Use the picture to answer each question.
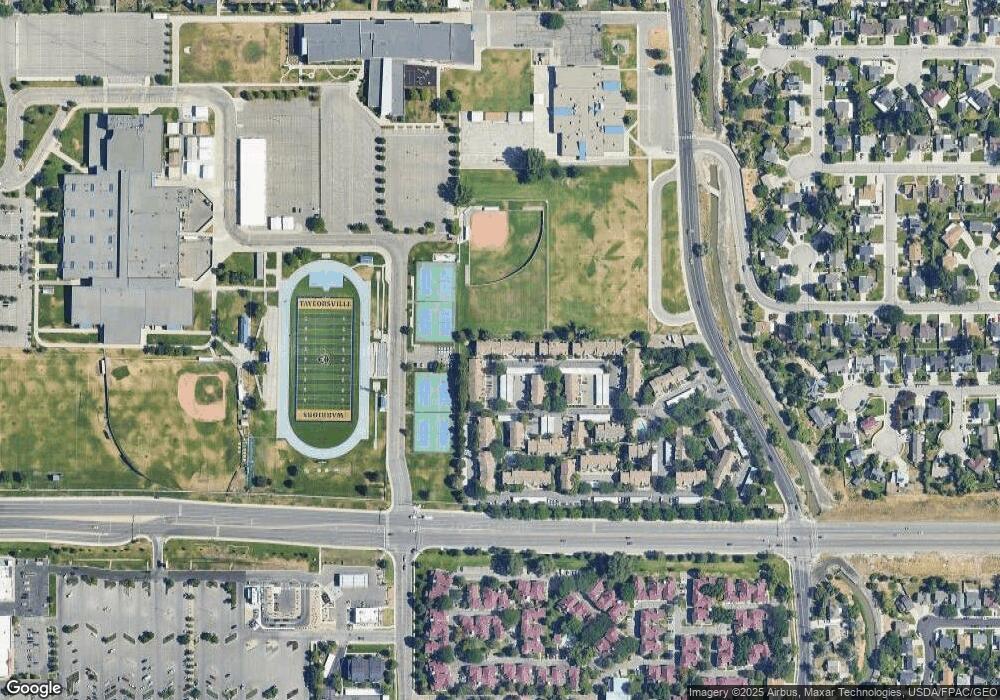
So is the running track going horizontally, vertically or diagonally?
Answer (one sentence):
From this overhead view, the running track appears to run vertically.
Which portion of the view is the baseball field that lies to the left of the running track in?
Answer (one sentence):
The baseball field that lies to the left of the running track appears toward the left of the photo.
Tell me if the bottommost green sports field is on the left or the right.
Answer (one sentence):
The bottommost green sports field is on the left side of the image.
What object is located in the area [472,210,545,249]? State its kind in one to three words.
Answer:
baseball field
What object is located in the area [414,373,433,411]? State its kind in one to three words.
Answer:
tennis court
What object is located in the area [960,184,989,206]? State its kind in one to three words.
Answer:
house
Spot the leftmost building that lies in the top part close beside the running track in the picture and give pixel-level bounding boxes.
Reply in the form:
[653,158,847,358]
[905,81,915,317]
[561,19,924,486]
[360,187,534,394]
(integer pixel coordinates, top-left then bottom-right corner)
[62,113,213,344]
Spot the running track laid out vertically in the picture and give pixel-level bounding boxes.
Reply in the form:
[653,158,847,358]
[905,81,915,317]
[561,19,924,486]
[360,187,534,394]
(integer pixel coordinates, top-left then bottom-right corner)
[277,260,371,459]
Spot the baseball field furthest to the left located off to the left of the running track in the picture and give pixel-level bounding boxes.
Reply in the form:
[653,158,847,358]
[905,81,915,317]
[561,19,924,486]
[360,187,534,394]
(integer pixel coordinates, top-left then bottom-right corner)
[179,374,229,420]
